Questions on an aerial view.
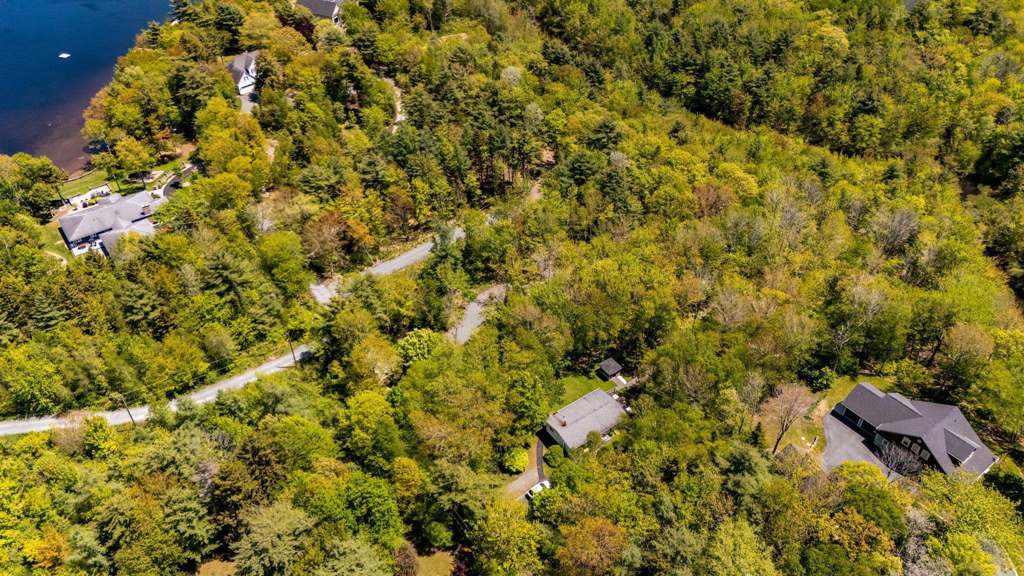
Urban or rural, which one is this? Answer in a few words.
rural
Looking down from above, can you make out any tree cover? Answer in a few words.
Yes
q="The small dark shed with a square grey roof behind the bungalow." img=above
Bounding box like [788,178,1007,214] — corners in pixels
[598,358,622,384]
